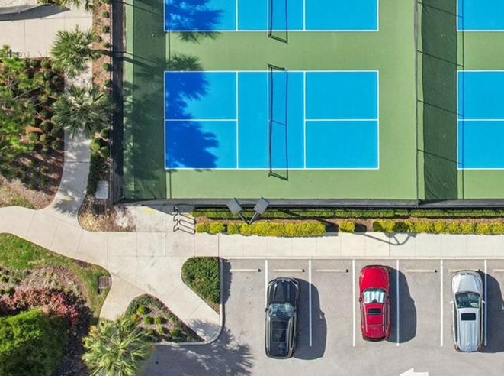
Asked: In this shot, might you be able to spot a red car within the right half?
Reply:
Yes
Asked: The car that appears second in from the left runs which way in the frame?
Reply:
from top to bottom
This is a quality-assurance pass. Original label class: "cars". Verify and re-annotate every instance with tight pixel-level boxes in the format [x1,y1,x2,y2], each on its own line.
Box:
[262,275,301,359]
[449,269,489,351]
[356,263,394,340]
